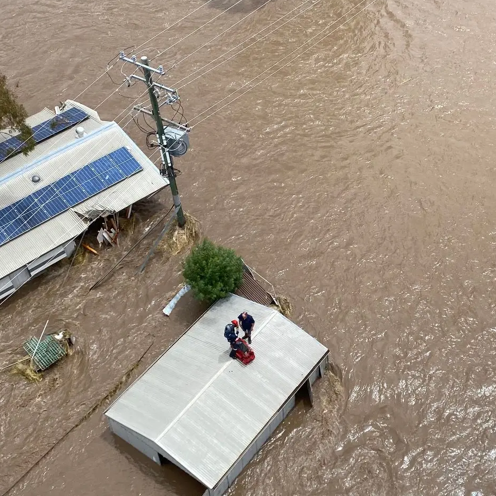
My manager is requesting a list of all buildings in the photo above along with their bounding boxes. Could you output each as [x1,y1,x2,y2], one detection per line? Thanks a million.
[0,93,167,301]
[103,290,331,496]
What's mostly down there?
water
